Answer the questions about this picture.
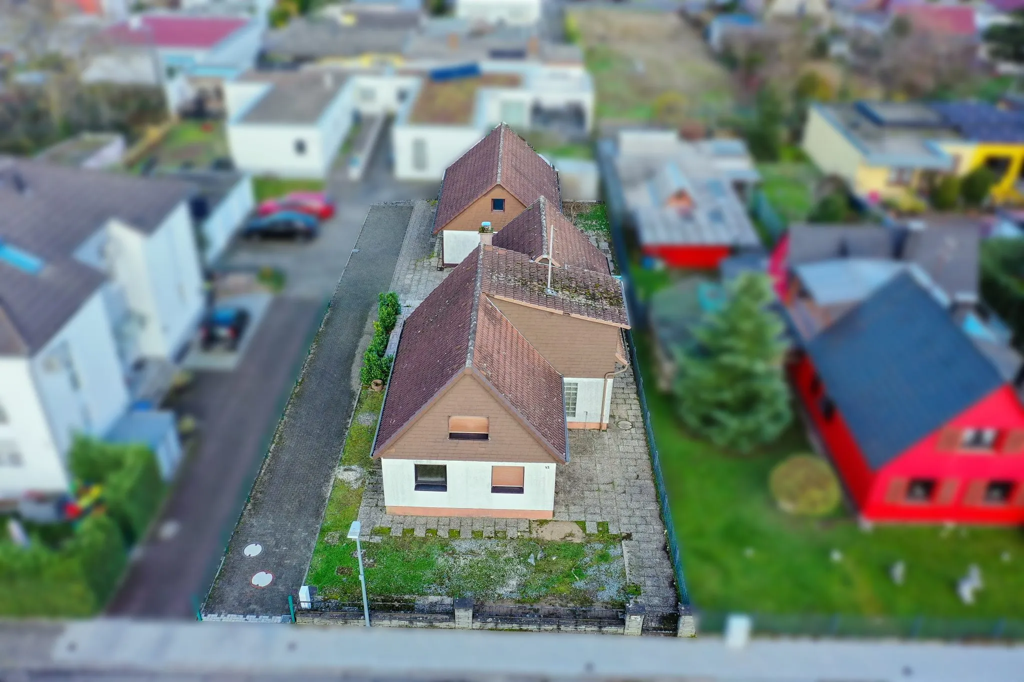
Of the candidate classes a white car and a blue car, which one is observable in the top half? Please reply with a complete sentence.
The feature located in the top half is a blue car.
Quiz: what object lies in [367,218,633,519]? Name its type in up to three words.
house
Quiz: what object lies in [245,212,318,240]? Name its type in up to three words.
car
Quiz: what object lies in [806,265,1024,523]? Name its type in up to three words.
house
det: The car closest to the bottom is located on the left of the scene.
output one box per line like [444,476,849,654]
[204,300,256,343]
